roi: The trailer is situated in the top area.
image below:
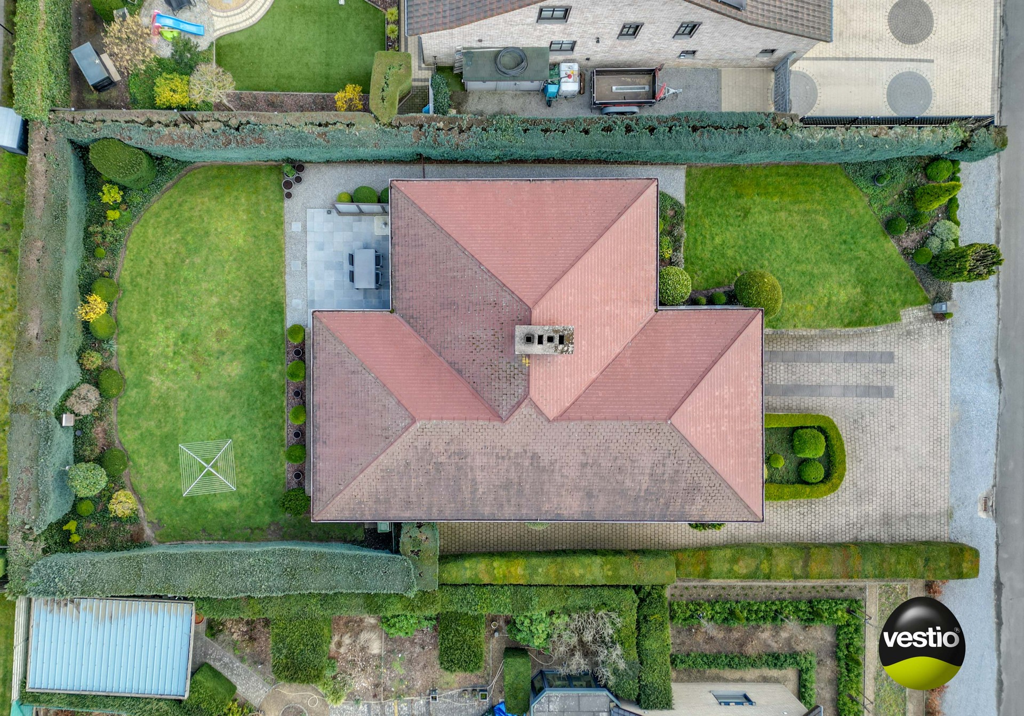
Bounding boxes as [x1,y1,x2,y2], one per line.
[590,65,686,115]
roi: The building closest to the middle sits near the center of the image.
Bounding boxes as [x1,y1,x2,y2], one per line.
[312,179,764,522]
